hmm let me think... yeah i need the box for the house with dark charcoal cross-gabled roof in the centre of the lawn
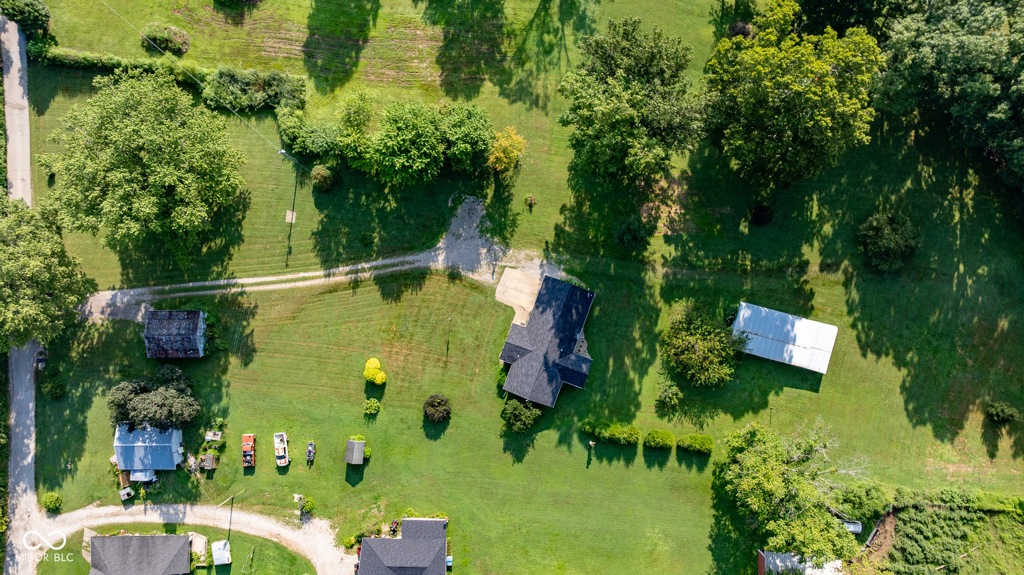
[499,275,596,408]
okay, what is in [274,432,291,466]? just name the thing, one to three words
vehicle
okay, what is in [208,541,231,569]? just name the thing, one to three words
shed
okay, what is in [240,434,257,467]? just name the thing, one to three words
vehicle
